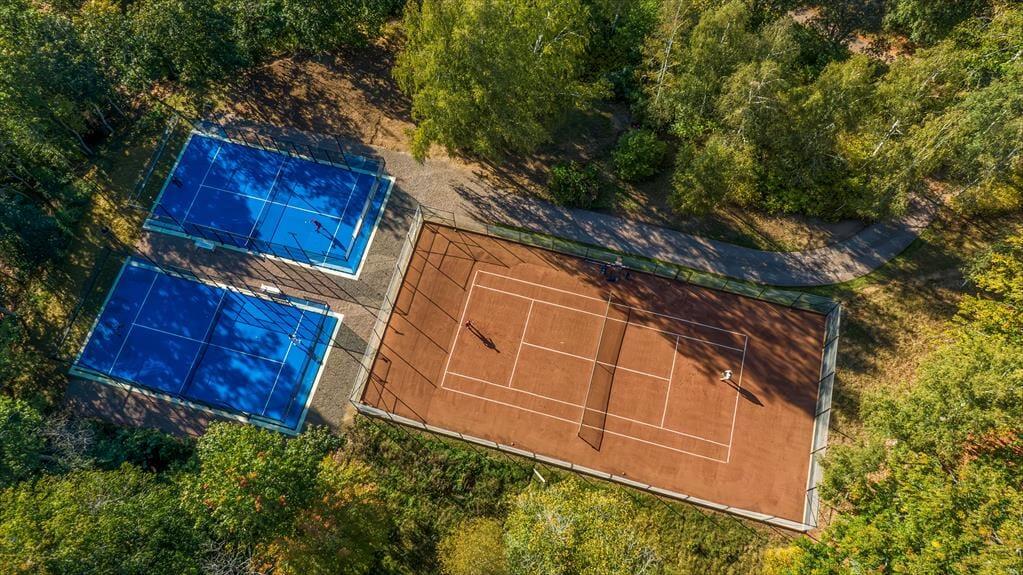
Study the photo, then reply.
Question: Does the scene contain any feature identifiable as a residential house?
No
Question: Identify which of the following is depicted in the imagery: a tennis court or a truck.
tennis court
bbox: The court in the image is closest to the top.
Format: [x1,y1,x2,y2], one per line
[128,112,395,279]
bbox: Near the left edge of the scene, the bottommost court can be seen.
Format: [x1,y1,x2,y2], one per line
[46,245,342,433]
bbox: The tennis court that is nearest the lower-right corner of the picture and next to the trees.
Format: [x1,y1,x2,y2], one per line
[360,223,825,528]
